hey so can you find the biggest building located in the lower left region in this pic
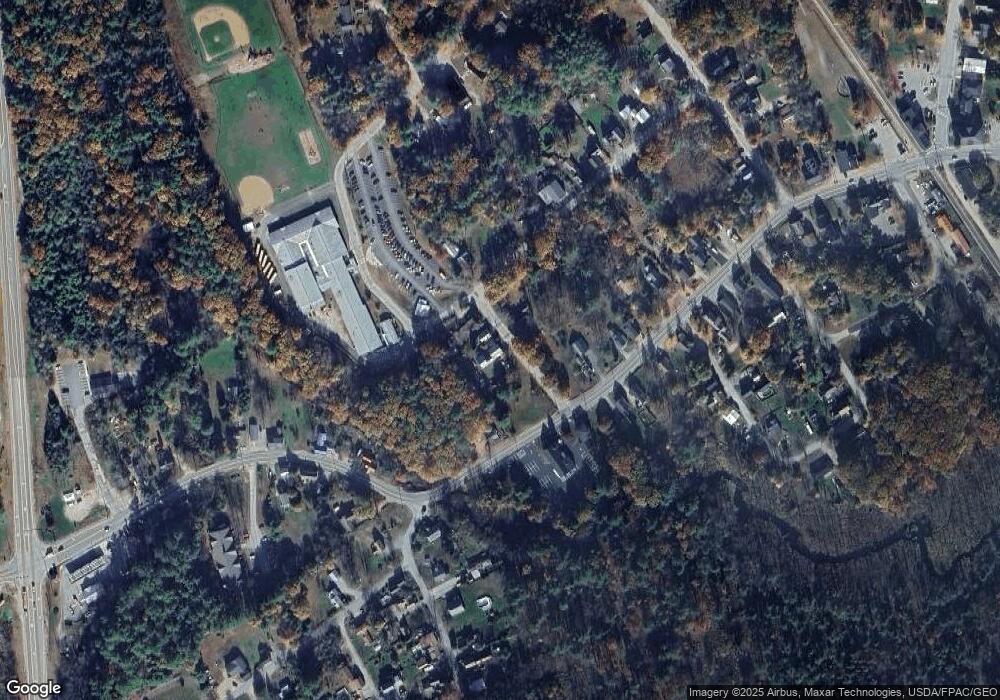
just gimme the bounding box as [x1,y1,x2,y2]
[208,527,243,578]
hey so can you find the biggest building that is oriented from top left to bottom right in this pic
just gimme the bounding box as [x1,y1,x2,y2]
[269,205,392,357]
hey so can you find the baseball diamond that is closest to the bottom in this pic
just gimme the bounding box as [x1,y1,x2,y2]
[213,61,333,214]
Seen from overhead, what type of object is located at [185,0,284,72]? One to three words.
baseball field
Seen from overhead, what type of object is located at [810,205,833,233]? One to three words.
house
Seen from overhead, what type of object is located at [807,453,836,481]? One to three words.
house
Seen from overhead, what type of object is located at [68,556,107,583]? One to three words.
building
